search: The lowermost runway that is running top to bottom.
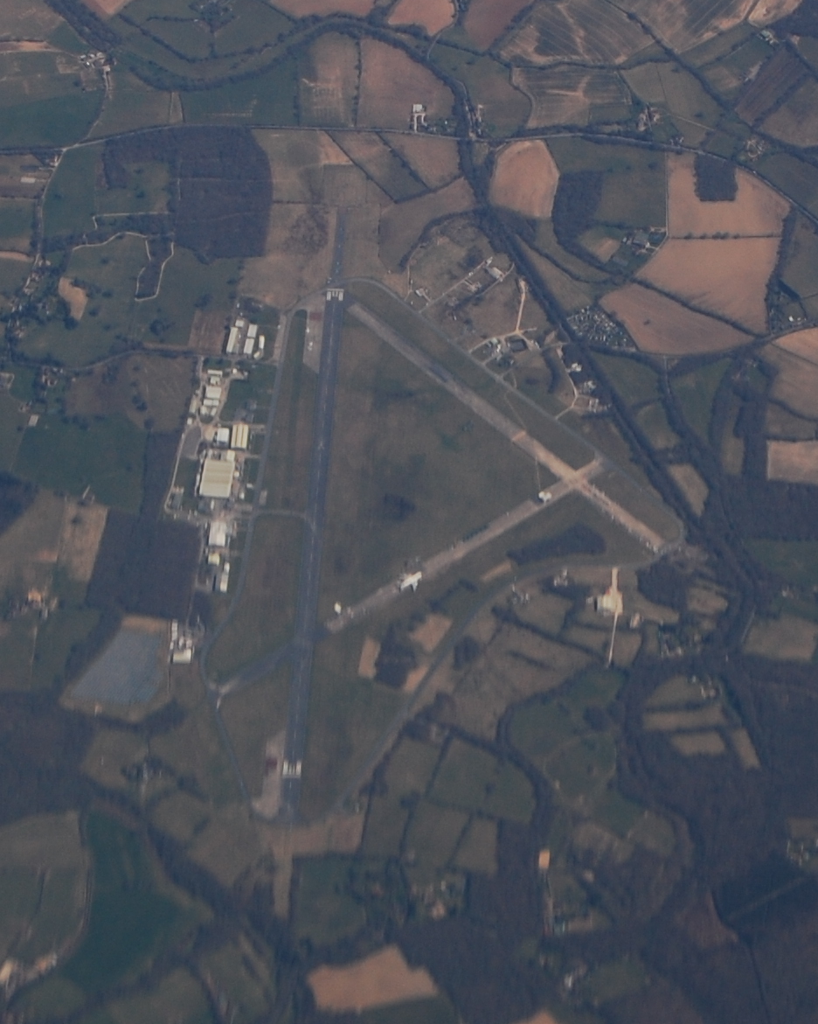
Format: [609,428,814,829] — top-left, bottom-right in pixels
[281,289,345,820]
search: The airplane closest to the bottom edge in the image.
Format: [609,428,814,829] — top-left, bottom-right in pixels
[397,572,421,589]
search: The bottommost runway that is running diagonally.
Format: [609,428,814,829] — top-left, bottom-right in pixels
[328,455,604,635]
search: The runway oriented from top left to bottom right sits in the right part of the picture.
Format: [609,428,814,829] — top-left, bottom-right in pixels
[347,303,665,551]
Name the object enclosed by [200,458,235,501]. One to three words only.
hangar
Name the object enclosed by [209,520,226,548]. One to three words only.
hangar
